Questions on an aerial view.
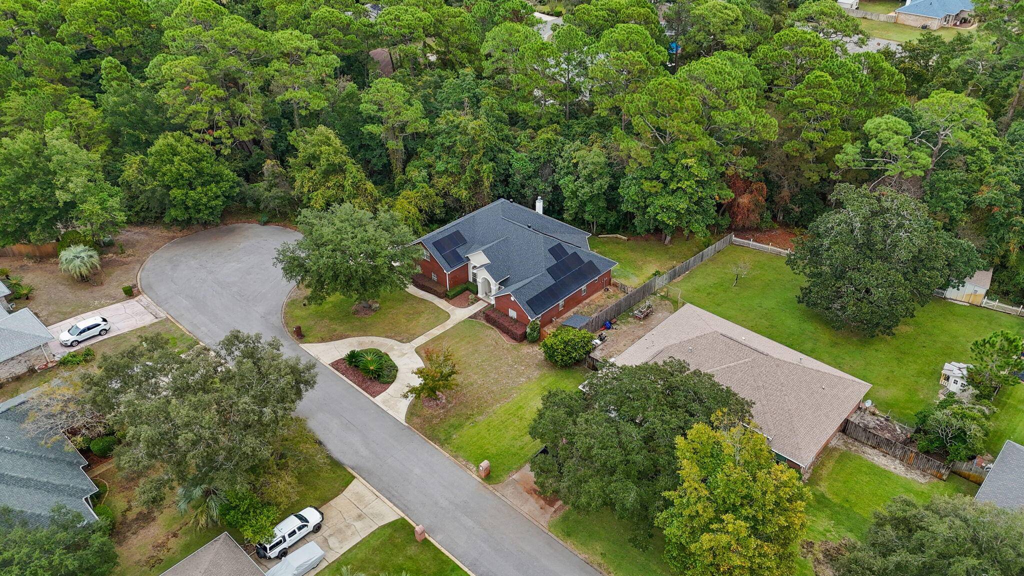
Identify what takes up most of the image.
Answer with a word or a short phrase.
trees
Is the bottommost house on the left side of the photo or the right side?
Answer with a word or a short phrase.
left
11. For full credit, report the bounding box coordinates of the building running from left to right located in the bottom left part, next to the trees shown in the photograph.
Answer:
[160,531,265,576]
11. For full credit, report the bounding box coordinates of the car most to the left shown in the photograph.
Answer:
[58,316,111,346]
